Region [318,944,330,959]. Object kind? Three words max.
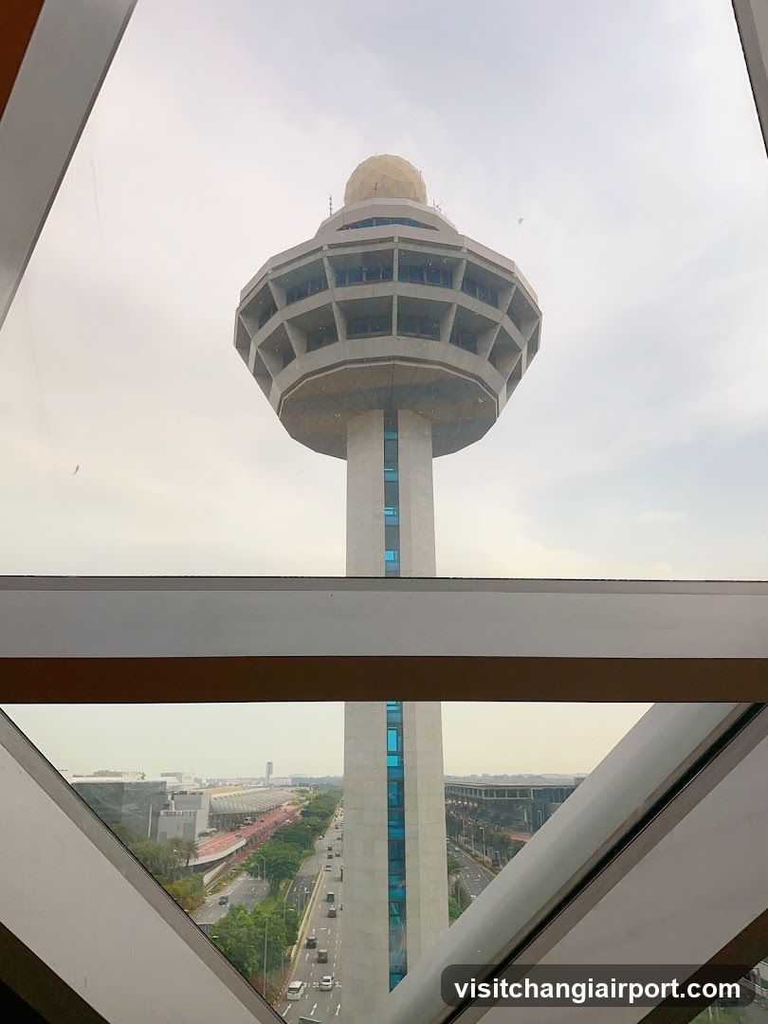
vehicle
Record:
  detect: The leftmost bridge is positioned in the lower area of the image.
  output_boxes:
[184,801,315,883]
